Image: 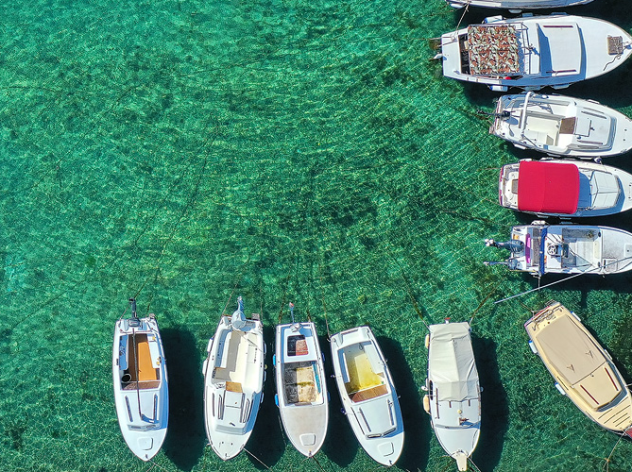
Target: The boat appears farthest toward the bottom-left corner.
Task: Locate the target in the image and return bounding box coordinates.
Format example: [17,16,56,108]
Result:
[113,295,170,462]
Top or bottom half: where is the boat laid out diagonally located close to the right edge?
bottom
